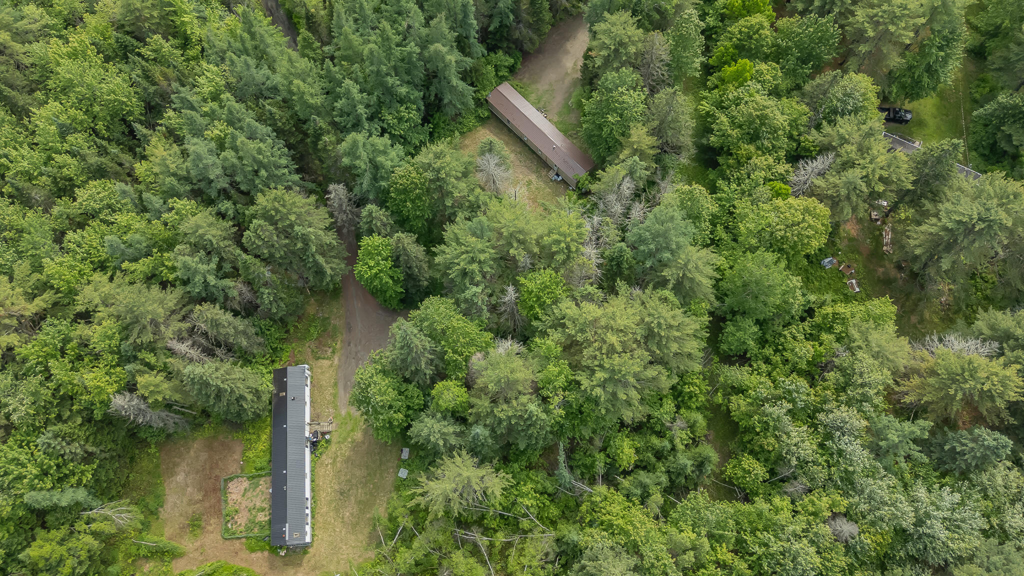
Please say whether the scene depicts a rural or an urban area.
rural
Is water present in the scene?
No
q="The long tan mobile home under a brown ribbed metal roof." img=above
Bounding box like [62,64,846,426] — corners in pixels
[486,82,597,189]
